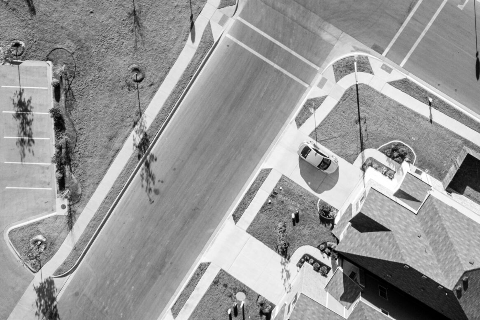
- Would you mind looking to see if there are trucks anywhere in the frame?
No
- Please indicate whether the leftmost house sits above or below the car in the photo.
below it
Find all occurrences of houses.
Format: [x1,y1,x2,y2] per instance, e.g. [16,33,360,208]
[275,267,396,320]
[331,169,480,320]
